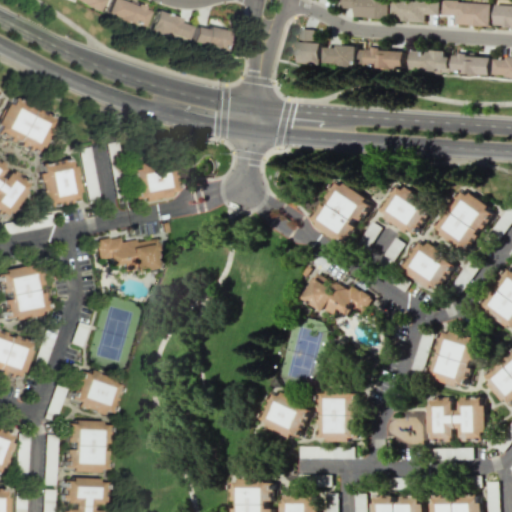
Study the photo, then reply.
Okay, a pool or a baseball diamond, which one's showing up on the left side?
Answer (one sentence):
Looking on the left side, you will find a pool.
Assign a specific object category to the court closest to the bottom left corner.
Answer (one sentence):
From above, the court closest to the bottom left corner can be identified as a tennis court.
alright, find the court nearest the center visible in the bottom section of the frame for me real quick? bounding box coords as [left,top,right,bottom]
[281,319,328,384]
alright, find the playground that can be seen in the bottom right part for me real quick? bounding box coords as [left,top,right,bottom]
[389,417,426,446]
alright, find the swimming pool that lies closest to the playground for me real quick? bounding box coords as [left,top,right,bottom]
[355,326,380,347]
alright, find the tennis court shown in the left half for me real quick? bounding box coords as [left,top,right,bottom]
[90,297,142,370]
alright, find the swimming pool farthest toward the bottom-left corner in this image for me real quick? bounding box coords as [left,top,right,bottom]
[118,278,149,299]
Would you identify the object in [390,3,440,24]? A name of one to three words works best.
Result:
house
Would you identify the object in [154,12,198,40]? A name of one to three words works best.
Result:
house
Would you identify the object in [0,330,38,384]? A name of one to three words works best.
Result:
building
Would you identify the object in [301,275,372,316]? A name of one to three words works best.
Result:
building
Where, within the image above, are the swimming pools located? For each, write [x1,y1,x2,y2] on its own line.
[118,278,149,299]
[355,326,380,347]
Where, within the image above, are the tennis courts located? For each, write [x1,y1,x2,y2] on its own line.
[90,297,142,370]
[281,319,328,384]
